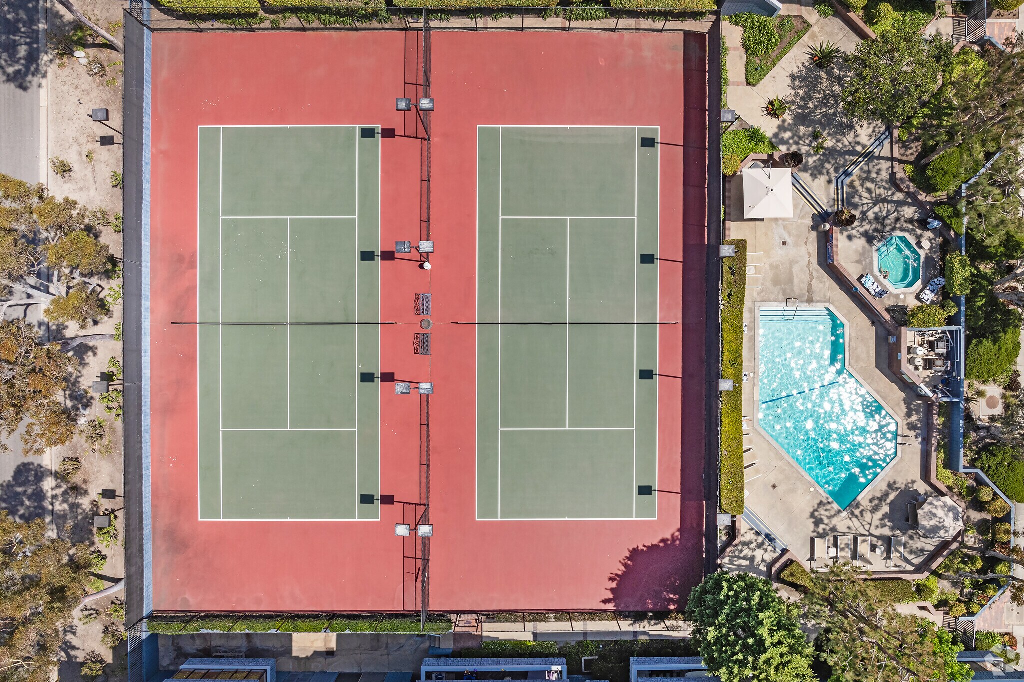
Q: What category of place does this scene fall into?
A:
sports ground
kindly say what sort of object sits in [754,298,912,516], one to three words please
swimming pool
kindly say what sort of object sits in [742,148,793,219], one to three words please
umbrella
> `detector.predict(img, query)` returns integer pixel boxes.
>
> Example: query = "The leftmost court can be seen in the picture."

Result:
[151,30,431,613]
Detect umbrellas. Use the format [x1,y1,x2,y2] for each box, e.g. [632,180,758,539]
[742,148,793,219]
[917,495,992,541]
